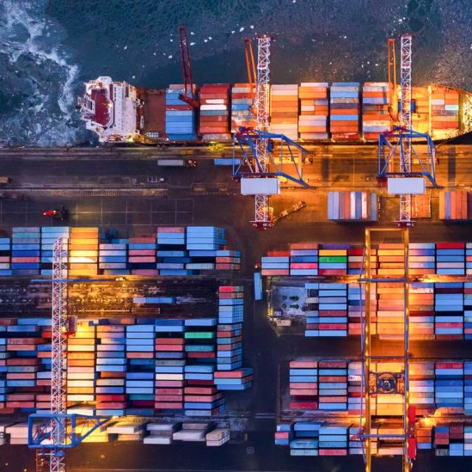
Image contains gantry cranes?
Yes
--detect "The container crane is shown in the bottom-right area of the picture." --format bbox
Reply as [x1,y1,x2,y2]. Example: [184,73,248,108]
[356,228,424,472]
